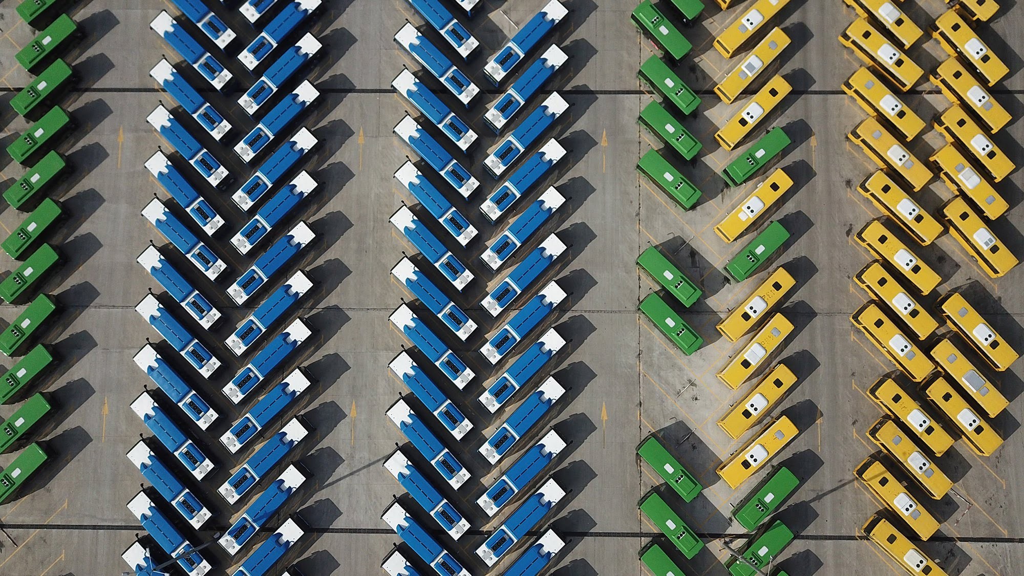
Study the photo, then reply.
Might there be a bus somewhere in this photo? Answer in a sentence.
Yes, there's a bus down there.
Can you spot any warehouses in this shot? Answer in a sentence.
No, the frame has no warehouse in it.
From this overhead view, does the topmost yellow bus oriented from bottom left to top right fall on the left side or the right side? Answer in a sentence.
The topmost yellow bus oriented from bottom left to top right sits on the right side.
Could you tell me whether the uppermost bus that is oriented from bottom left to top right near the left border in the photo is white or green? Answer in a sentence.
In this view, the uppermost bus that is oriented from bottom left to top right near the left border is green.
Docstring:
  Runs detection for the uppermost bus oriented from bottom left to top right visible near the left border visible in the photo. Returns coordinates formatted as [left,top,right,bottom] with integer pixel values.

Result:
[16,13,87,77]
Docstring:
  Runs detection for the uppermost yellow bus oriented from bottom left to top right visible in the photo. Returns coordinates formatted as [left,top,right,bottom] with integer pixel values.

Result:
[713,0,788,60]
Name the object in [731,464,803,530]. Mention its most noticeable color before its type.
green bus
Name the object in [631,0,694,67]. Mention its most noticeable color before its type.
green bus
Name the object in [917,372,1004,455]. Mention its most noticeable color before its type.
yellow bus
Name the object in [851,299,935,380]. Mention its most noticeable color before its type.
yellow bus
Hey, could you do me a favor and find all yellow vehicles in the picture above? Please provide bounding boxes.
[851,299,935,380]
[935,193,1019,277]
[947,0,999,28]
[843,0,923,53]
[925,144,1009,225]
[842,64,925,144]
[713,26,793,106]
[855,455,940,539]
[855,258,938,339]
[716,360,800,438]
[714,74,794,152]
[929,54,1012,136]
[928,7,1009,89]
[850,113,933,194]
[713,0,788,60]
[868,414,954,498]
[933,101,1015,185]
[862,512,943,576]
[715,411,801,487]
[923,334,1009,416]
[933,288,1019,370]
[715,310,796,389]
[859,167,943,246]
[840,15,924,93]
[868,373,954,455]
[917,372,1004,455]
[713,167,795,244]
[855,217,941,296]
[715,265,798,342]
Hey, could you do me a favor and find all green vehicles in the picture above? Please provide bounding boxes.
[0,241,70,304]
[16,13,87,77]
[638,537,688,576]
[635,242,701,308]
[635,432,701,501]
[4,149,76,212]
[637,288,702,355]
[637,486,703,558]
[0,440,59,504]
[725,516,797,576]
[731,464,803,530]
[723,219,794,283]
[0,390,62,454]
[0,291,66,356]
[8,104,80,168]
[658,0,703,28]
[0,341,64,404]
[637,52,700,121]
[637,97,701,165]
[17,0,74,30]
[2,196,73,261]
[635,145,700,212]
[722,126,794,187]
[631,0,694,67]
[11,58,82,121]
